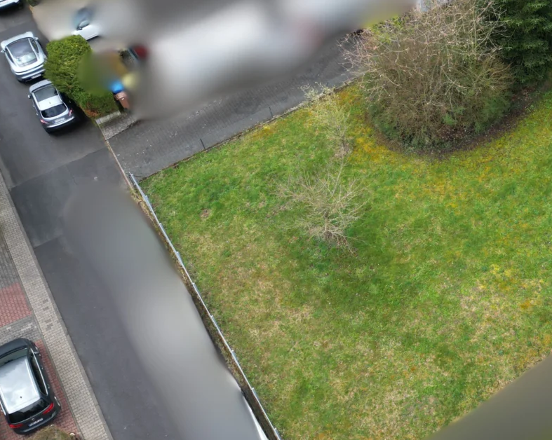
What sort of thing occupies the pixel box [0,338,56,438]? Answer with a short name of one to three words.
car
